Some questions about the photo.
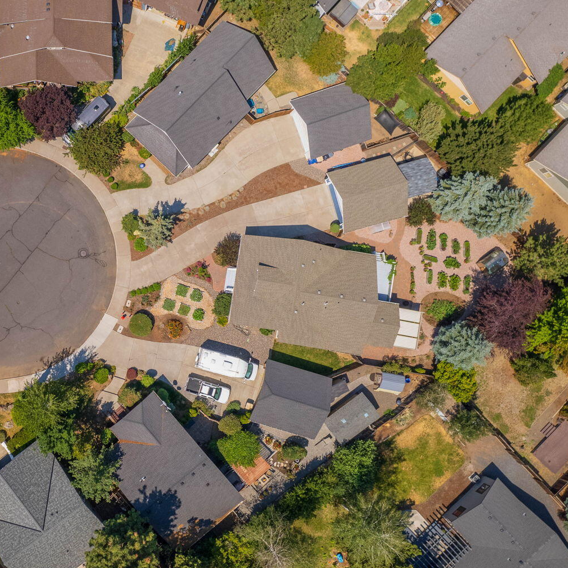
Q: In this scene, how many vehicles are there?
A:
3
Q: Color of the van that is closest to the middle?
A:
white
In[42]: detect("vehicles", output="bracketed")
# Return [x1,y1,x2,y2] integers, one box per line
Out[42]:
[192,344,256,376]
[68,89,113,144]
[183,375,233,403]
